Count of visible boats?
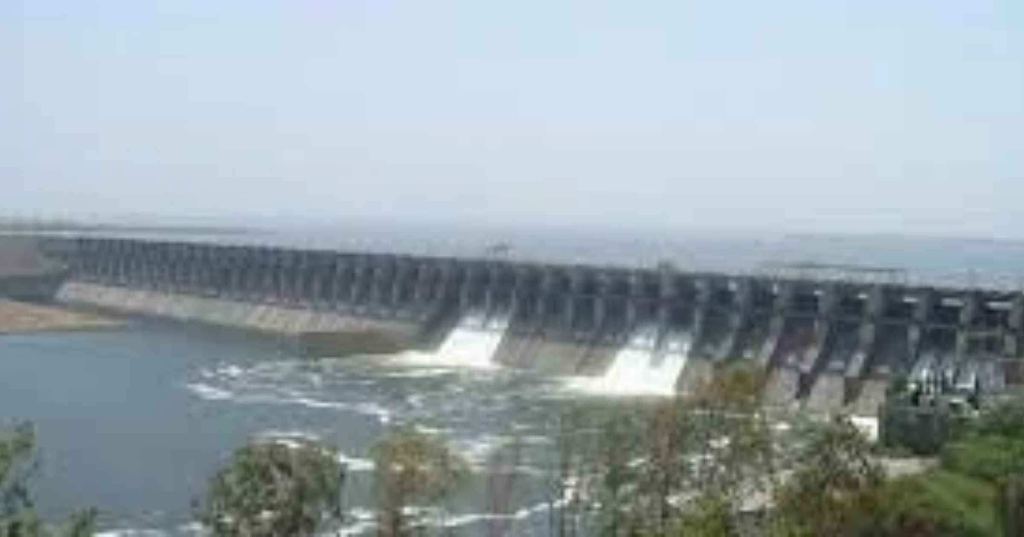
none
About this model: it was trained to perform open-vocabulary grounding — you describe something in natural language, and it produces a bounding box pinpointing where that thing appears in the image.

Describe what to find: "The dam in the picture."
[35,239,1024,420]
